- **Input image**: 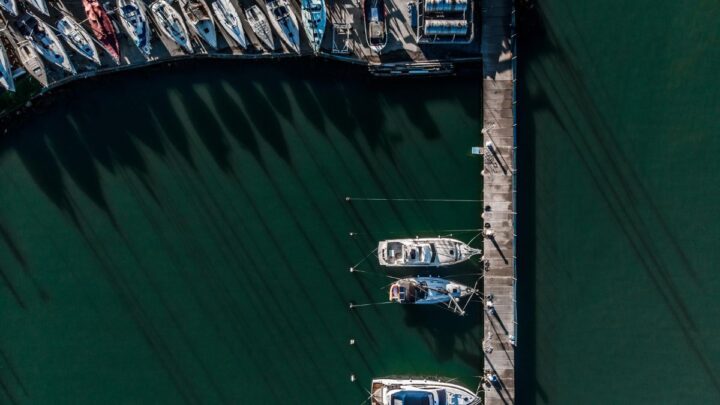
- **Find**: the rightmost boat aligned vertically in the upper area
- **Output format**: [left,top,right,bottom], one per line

[363,0,387,52]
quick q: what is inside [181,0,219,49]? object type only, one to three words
boat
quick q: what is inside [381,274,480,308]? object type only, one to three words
boat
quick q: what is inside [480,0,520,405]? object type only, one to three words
pier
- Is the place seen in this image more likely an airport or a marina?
marina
